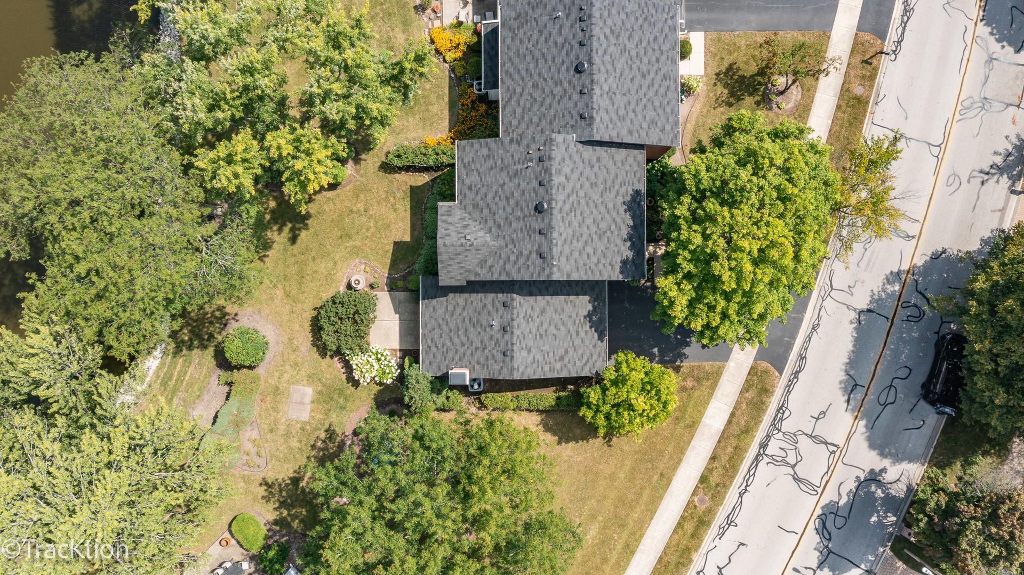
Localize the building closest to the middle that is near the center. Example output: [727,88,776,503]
[418,132,648,384]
